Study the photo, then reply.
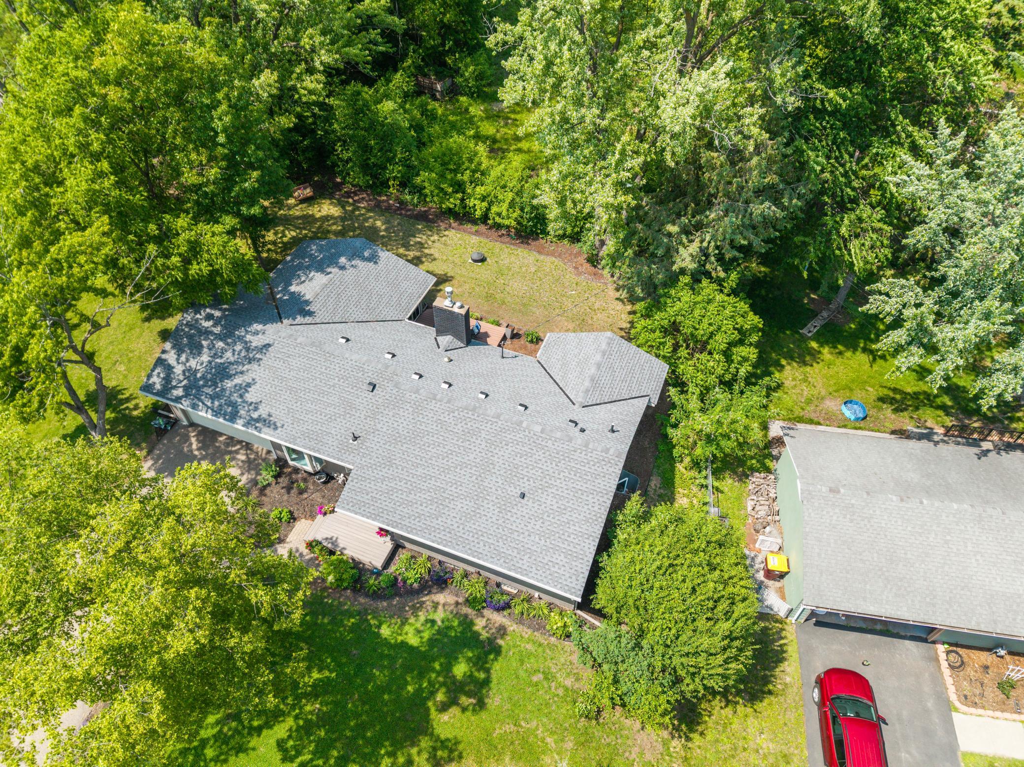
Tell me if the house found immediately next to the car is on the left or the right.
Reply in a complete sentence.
It is on the right.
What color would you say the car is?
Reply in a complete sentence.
From above, the car appears red.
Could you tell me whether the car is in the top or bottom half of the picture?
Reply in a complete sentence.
The car is in the bottom half of the image.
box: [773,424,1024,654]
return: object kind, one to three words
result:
house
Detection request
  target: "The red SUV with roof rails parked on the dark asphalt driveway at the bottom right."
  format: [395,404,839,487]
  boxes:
[807,666,887,767]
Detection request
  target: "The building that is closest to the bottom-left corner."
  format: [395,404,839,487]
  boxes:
[137,237,669,611]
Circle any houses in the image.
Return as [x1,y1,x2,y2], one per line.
[773,424,1024,654]
[137,237,669,611]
